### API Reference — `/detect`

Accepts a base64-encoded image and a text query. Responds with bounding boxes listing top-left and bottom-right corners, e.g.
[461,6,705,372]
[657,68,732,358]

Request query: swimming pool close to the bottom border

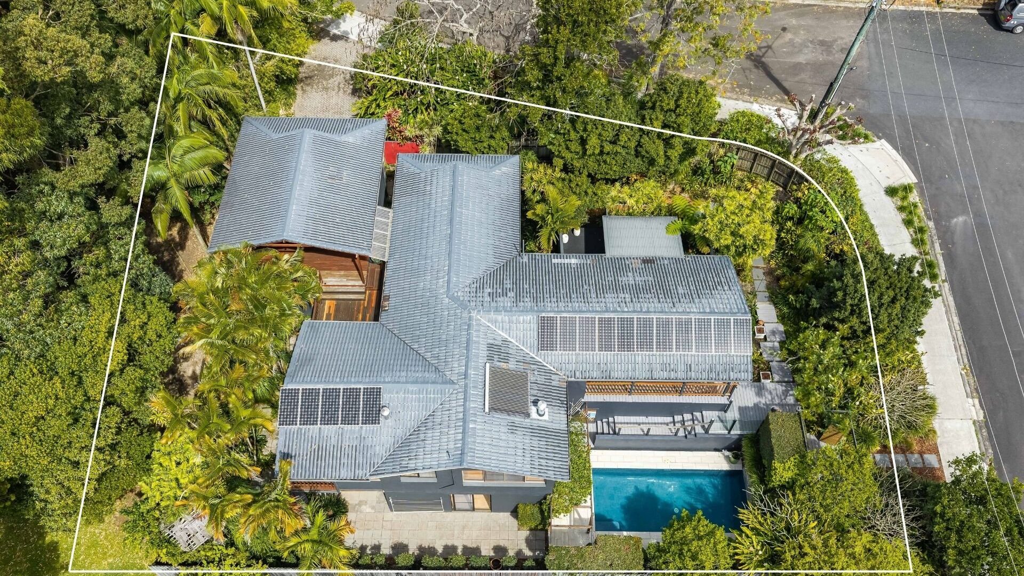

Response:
[582,449,757,551]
